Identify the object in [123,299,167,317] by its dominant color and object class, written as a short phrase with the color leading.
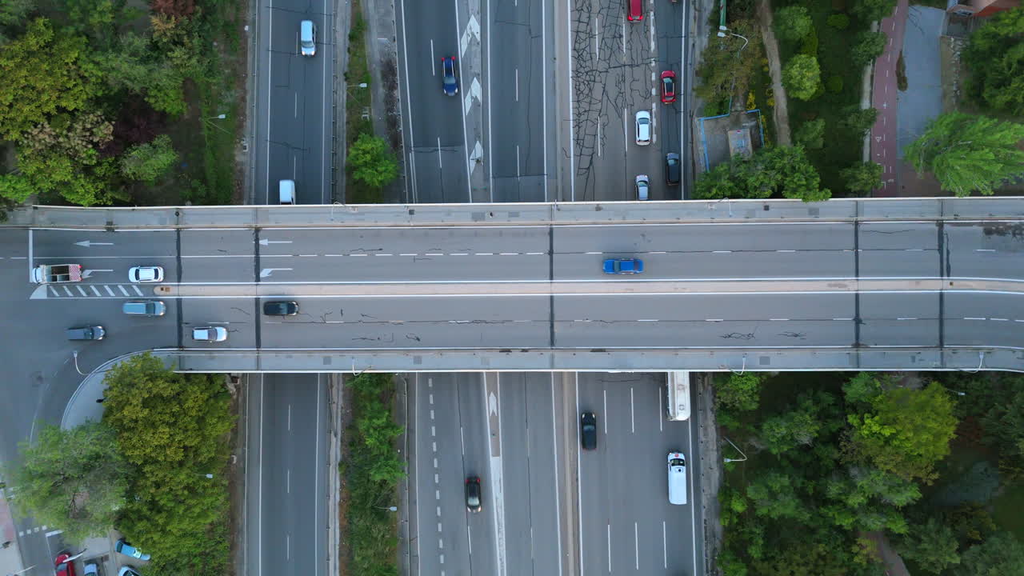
blue car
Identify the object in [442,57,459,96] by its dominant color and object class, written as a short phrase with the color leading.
blue car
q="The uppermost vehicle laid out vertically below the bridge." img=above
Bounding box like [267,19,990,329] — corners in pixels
[666,371,692,423]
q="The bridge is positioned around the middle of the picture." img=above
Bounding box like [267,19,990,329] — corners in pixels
[32,196,1024,373]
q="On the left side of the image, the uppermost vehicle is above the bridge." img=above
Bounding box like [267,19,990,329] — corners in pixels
[299,19,318,58]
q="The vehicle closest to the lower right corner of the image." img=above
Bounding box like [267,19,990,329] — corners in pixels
[666,451,688,506]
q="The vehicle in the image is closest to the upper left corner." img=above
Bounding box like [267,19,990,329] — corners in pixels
[33,264,84,284]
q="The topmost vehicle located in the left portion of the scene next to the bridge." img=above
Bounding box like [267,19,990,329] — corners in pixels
[278,177,297,204]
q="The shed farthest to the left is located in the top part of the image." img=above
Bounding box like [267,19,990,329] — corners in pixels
[724,130,752,162]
